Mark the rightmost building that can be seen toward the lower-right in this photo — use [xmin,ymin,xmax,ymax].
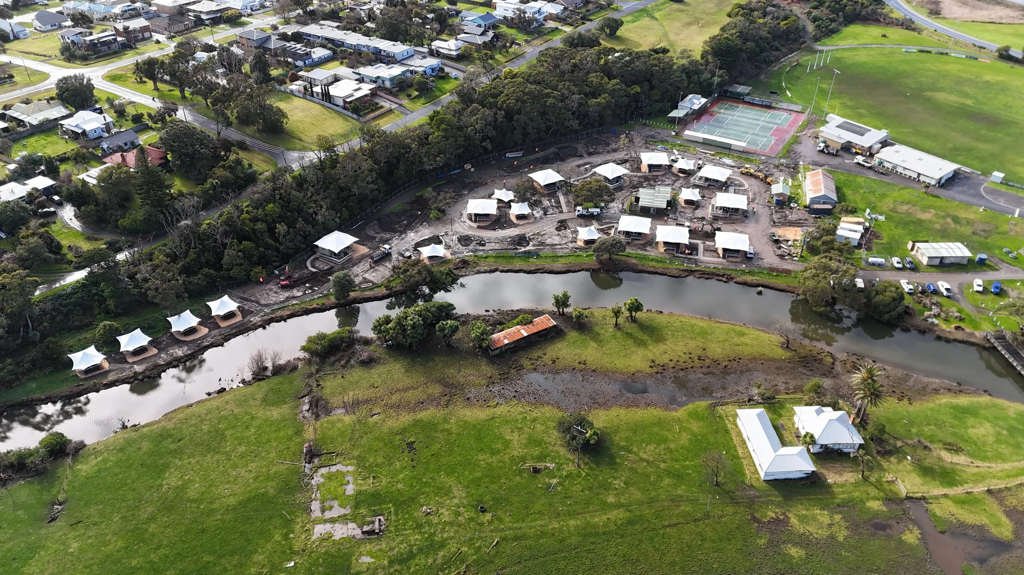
[795,397,865,455]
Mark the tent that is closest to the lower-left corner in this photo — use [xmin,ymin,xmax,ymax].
[61,344,116,379]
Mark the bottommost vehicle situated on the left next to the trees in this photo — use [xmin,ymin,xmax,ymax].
[277,262,291,287]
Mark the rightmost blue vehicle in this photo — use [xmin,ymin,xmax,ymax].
[991,277,1003,292]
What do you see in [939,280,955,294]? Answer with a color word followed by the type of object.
white vehicle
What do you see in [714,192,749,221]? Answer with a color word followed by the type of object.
white tent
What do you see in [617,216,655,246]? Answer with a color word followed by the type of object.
white tent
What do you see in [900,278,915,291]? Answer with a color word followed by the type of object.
white vehicle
